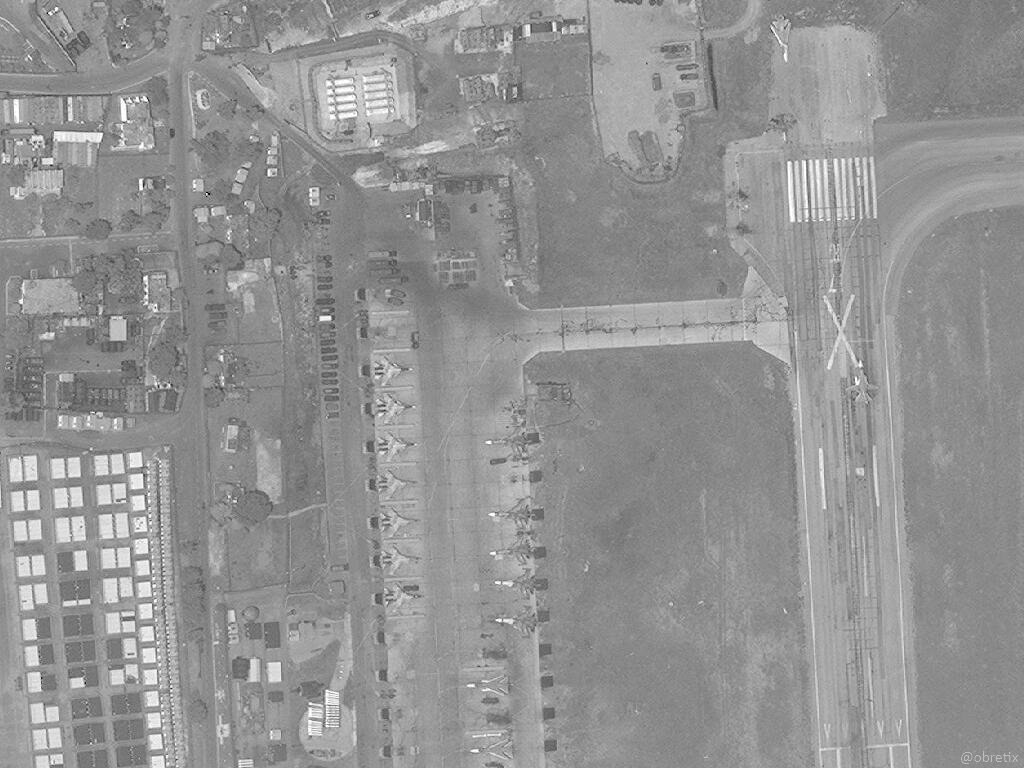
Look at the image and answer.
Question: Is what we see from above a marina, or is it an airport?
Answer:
airport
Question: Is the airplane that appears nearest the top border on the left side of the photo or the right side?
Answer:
right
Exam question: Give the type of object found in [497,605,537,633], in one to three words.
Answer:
airplane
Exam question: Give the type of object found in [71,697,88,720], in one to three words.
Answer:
building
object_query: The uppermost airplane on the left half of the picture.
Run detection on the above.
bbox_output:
[372,356,412,384]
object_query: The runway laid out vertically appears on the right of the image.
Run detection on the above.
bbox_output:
[724,24,921,768]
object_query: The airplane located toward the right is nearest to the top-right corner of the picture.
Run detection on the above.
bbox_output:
[771,16,792,59]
